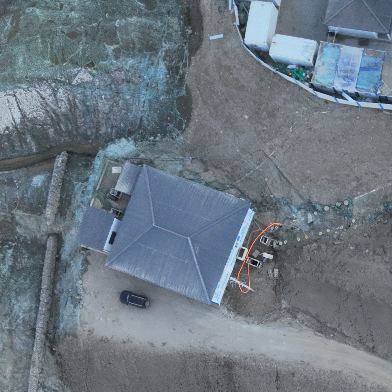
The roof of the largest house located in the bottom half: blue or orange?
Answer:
blue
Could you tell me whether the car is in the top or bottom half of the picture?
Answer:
bottom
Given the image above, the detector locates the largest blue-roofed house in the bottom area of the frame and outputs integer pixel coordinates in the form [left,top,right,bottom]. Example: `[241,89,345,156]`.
[106,165,251,307]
